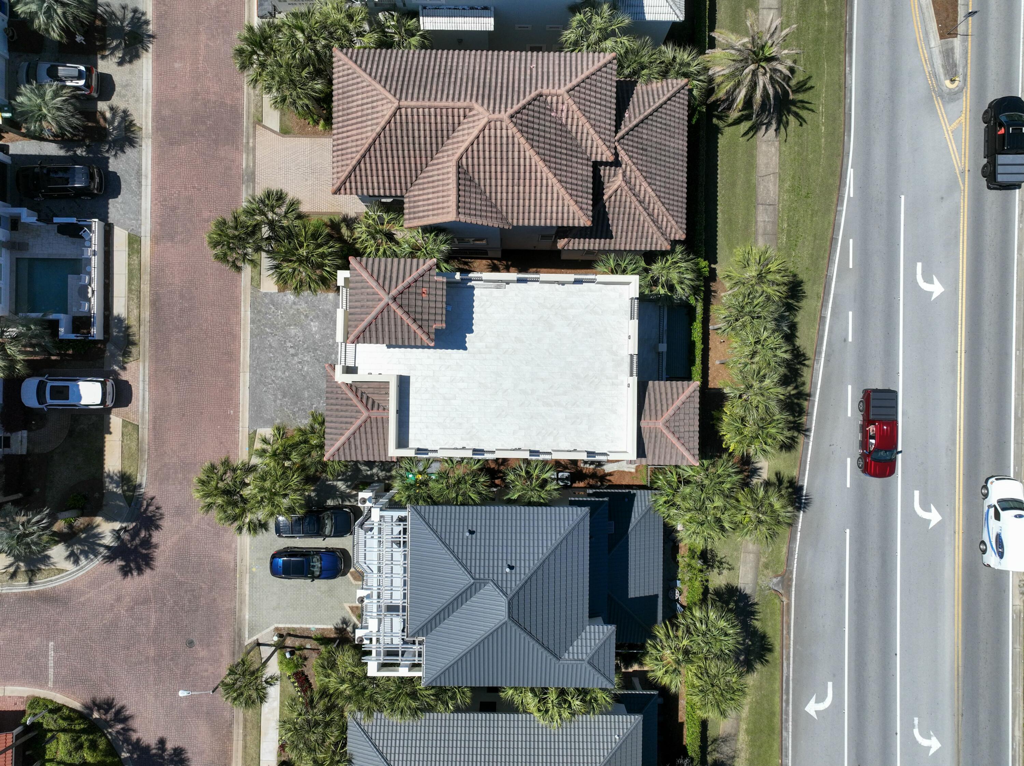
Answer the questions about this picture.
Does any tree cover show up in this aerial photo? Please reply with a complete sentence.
Yes, there is tree cover in the image.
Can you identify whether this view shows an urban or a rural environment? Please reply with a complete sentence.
From above, the setting appears urban.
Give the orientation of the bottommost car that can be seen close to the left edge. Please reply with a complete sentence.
I'd say the bottommost car that can be seen close to the left edge is aligned horizontally in the picture.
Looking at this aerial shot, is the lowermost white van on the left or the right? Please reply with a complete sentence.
The lowermost white van is on the right side of the image.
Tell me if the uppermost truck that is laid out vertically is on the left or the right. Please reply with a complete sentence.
You can find the uppermost truck that is laid out vertically on the right side of the picture.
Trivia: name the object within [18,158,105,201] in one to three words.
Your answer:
car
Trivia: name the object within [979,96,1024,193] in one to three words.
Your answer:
truck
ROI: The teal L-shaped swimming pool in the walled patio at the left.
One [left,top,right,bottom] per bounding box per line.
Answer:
[15,257,81,313]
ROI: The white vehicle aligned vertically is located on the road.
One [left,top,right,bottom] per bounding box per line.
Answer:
[976,476,1024,576]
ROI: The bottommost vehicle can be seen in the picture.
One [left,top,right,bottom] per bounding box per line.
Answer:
[268,546,345,585]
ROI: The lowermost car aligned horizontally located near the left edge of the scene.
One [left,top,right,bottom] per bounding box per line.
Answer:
[23,372,117,413]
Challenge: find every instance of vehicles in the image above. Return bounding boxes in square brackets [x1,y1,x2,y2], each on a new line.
[272,503,355,543]
[855,385,902,478]
[19,55,102,102]
[979,96,1024,193]
[268,546,345,585]
[18,158,105,201]
[976,476,1024,576]
[23,372,117,413]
